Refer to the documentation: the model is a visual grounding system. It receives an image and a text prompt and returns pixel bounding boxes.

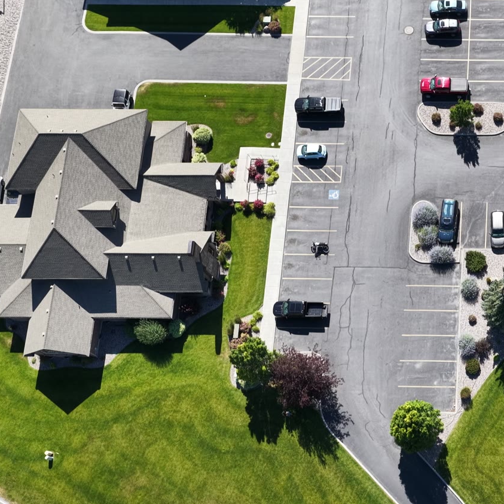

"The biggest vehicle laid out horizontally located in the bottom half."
[273,299,330,321]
